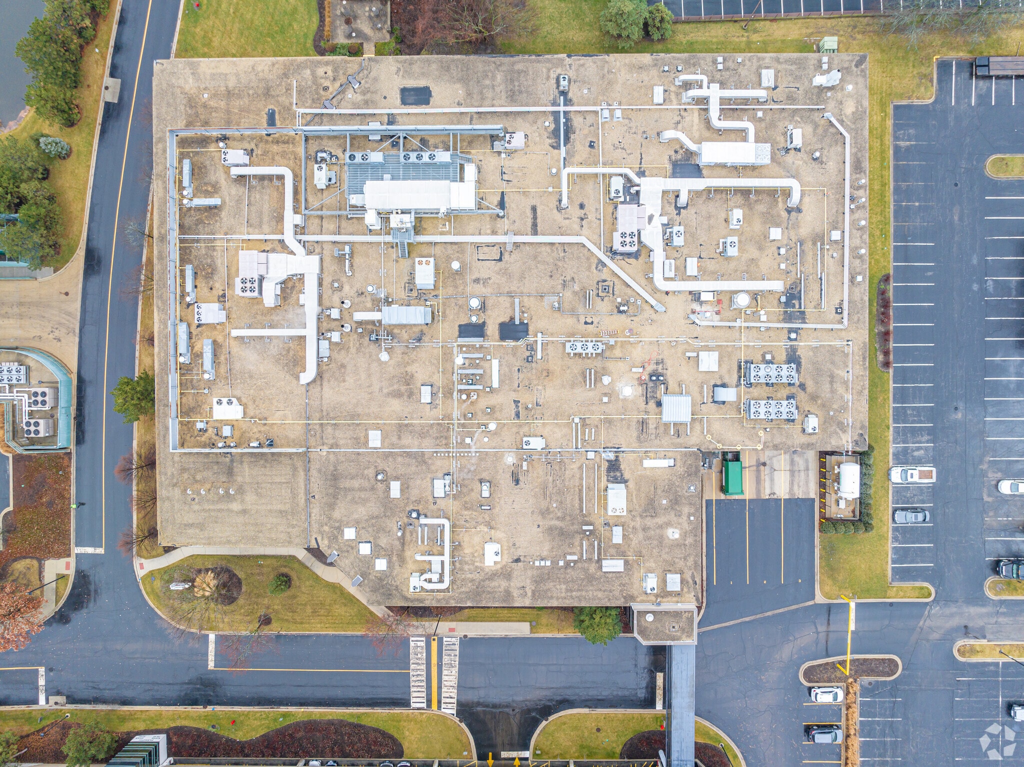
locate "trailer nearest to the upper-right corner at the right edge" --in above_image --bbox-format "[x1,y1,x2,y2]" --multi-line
[971,56,1024,78]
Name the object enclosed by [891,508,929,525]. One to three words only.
car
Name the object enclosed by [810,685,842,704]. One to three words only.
car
